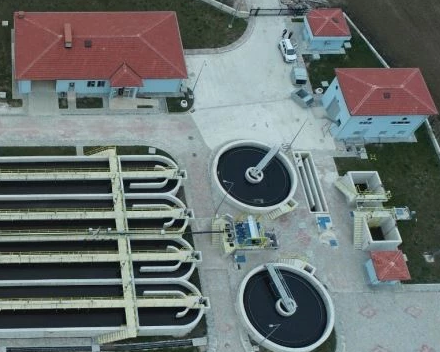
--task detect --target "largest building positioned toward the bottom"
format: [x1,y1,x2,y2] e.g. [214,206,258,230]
[206,212,281,258]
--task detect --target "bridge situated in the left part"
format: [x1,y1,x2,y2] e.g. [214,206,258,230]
[106,142,139,338]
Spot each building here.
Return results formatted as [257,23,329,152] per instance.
[320,67,440,144]
[303,9,352,53]
[13,11,188,106]
[206,212,281,258]
[363,250,413,286]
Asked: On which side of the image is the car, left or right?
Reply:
right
